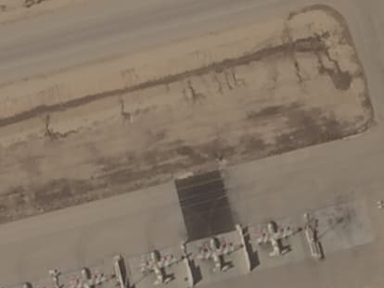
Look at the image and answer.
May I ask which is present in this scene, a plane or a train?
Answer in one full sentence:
It is a plane that can be seen here.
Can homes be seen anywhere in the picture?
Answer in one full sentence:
No, there isn't any home down there.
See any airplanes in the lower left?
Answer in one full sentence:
Yes, I can see an airplane in the lower left.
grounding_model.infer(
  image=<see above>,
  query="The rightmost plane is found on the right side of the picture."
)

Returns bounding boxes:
[251,225,297,254]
